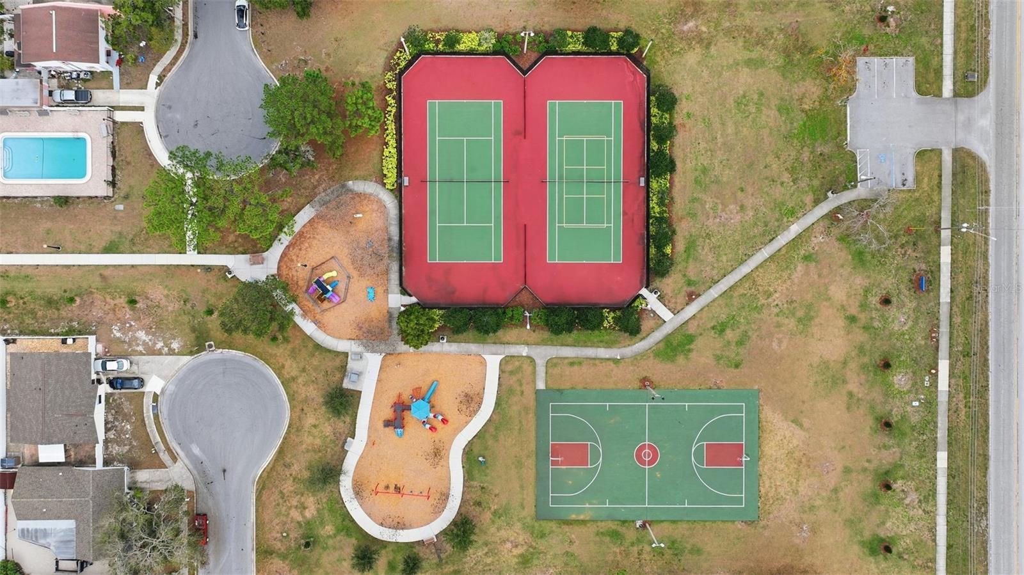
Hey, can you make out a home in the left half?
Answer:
Yes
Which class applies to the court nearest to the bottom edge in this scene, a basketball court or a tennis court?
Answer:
basketball court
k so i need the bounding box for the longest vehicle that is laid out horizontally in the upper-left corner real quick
[53,88,95,104]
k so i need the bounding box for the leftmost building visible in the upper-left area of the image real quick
[0,79,49,110]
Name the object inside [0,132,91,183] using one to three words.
swimming pool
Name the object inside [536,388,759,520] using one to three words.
basketball court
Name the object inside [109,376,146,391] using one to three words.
car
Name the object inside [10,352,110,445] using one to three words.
house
